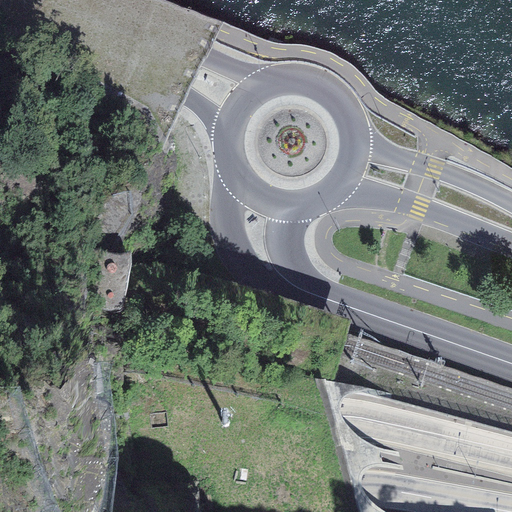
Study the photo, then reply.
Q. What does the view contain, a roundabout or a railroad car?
roundabout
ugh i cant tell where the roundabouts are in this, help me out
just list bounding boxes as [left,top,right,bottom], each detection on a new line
[212,63,372,222]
